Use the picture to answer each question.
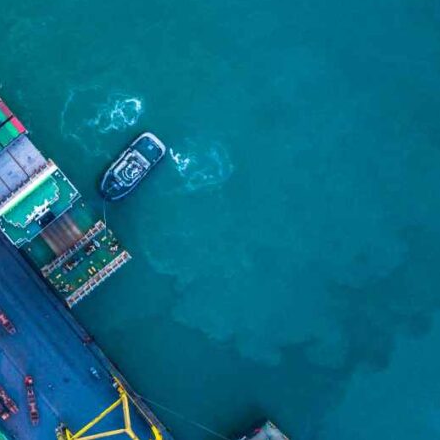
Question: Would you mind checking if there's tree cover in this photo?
No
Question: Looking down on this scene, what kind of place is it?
port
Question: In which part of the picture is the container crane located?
bottom left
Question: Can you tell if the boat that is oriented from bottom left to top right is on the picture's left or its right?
left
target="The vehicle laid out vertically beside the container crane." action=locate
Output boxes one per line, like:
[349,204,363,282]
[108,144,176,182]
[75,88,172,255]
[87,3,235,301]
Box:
[24,374,39,424]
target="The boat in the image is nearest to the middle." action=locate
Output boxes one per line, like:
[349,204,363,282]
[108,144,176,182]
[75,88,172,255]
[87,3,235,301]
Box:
[101,126,169,201]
